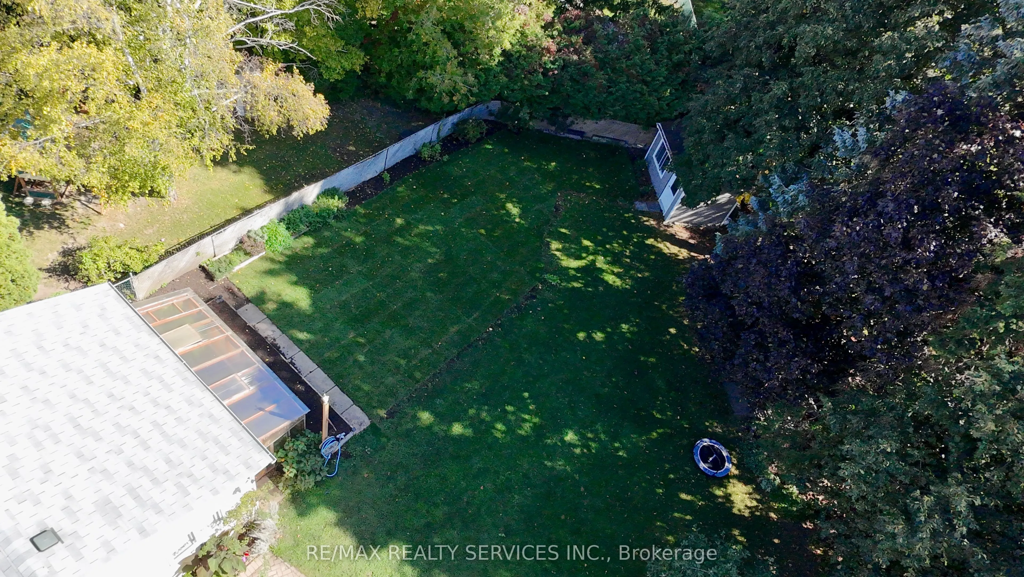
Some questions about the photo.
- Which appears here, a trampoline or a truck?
trampoline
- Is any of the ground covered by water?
No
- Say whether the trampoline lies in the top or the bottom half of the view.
bottom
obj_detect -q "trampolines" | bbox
[693,438,732,479]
